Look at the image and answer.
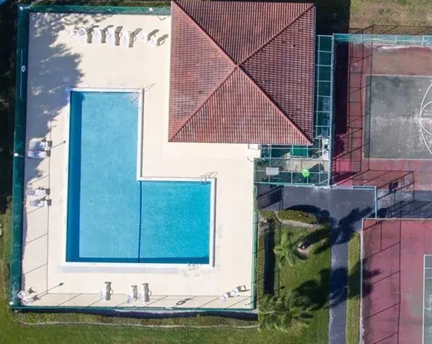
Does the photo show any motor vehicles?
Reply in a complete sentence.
No, there appears to be no motor vehicle in this shot.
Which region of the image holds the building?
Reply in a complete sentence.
You can find the building in the top area of the picture.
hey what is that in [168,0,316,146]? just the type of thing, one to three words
building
